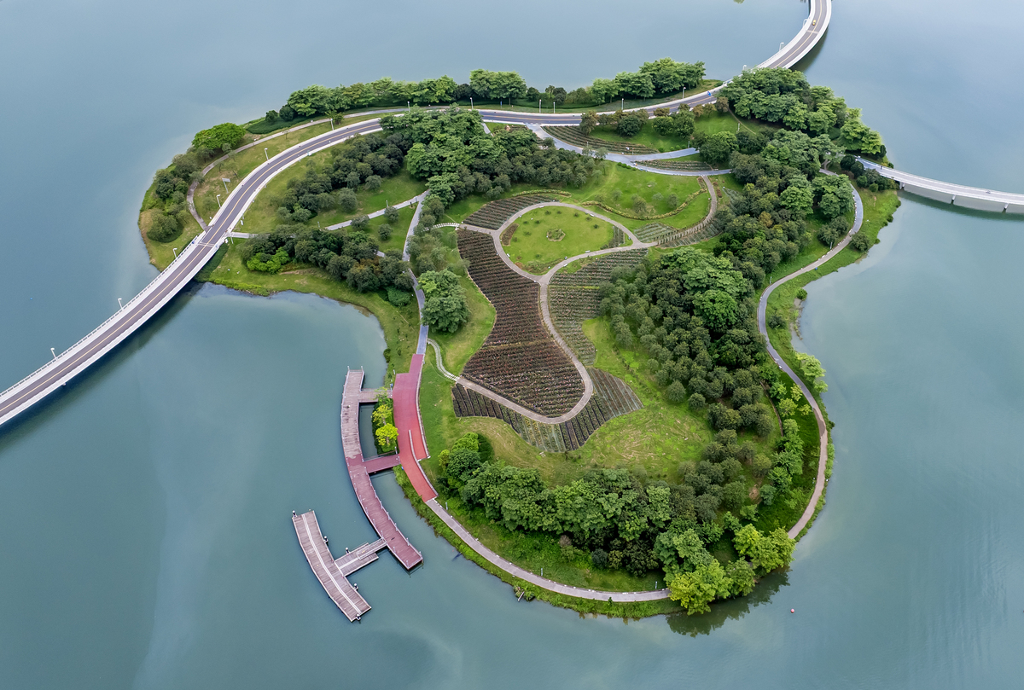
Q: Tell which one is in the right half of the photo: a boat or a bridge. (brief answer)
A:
bridge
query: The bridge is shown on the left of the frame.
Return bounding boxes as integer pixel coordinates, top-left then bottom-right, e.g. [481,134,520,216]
[0,242,216,424]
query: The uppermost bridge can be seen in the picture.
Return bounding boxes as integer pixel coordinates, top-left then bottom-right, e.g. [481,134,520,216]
[717,0,830,87]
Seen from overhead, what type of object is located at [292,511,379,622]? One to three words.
pier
